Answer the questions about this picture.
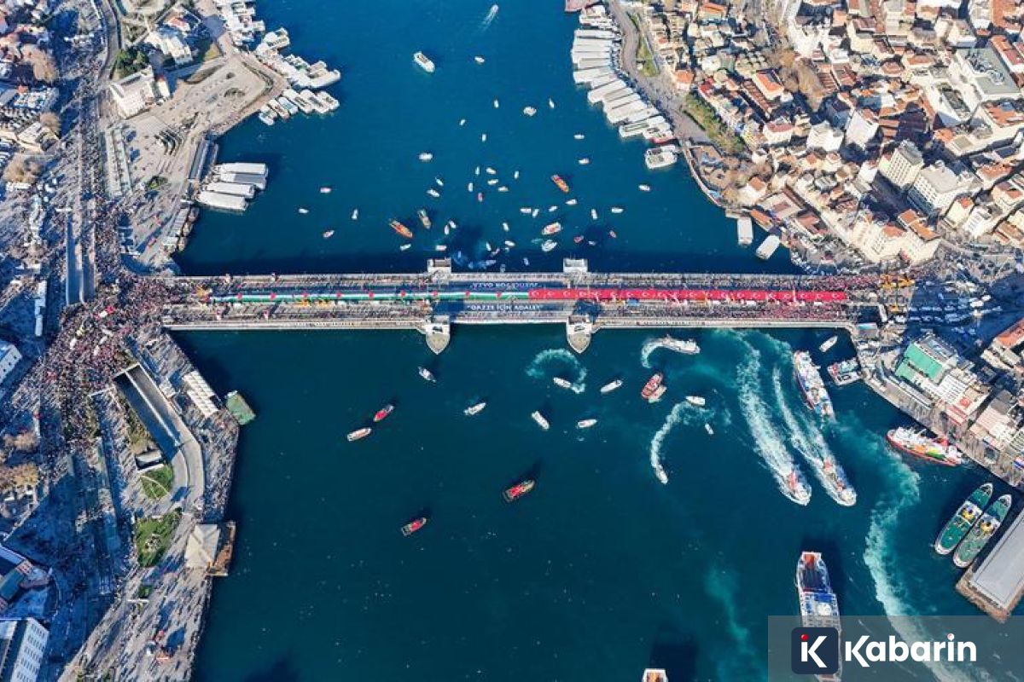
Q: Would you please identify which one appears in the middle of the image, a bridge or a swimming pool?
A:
bridge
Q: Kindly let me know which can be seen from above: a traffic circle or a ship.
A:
ship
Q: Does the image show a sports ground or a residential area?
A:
residential area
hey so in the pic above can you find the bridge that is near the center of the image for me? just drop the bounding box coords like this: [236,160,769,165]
[167,255,857,356]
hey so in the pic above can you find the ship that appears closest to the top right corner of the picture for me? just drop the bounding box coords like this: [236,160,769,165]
[755,233,784,262]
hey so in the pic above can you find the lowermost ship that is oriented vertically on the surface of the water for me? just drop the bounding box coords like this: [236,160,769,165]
[798,549,844,682]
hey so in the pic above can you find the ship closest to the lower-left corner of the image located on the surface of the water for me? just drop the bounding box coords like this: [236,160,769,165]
[222,388,256,427]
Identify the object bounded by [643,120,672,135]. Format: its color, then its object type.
white ship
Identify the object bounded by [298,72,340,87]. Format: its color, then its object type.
white boat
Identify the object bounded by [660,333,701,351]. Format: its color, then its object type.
white ship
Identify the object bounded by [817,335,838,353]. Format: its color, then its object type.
white boat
